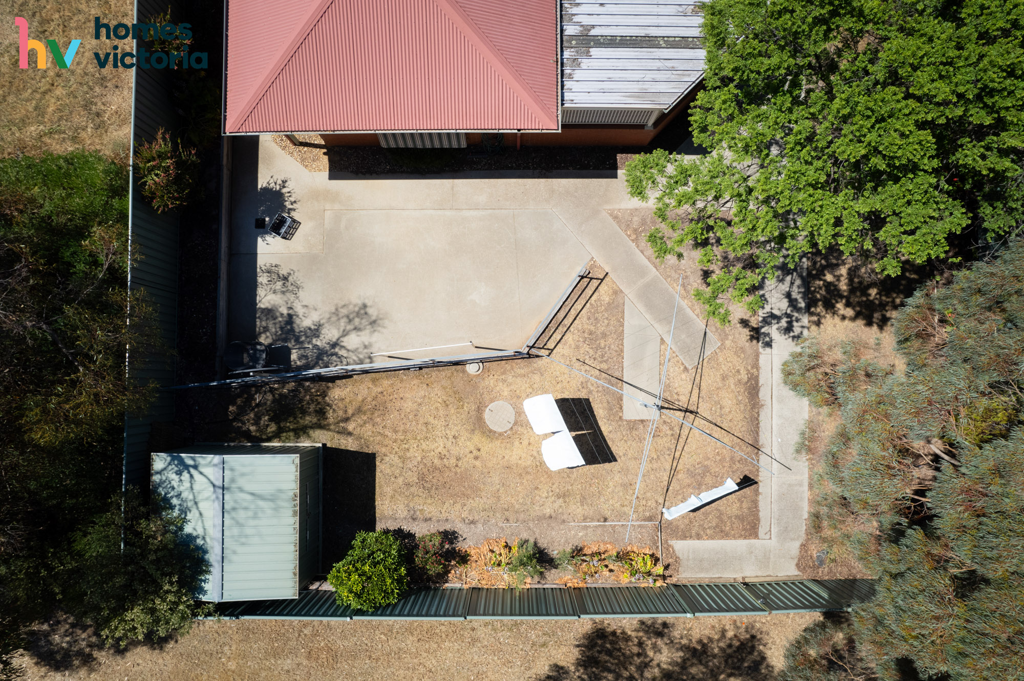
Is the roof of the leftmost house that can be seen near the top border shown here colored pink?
Yes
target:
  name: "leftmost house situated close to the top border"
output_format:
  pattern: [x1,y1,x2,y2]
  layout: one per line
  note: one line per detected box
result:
[222,0,571,150]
